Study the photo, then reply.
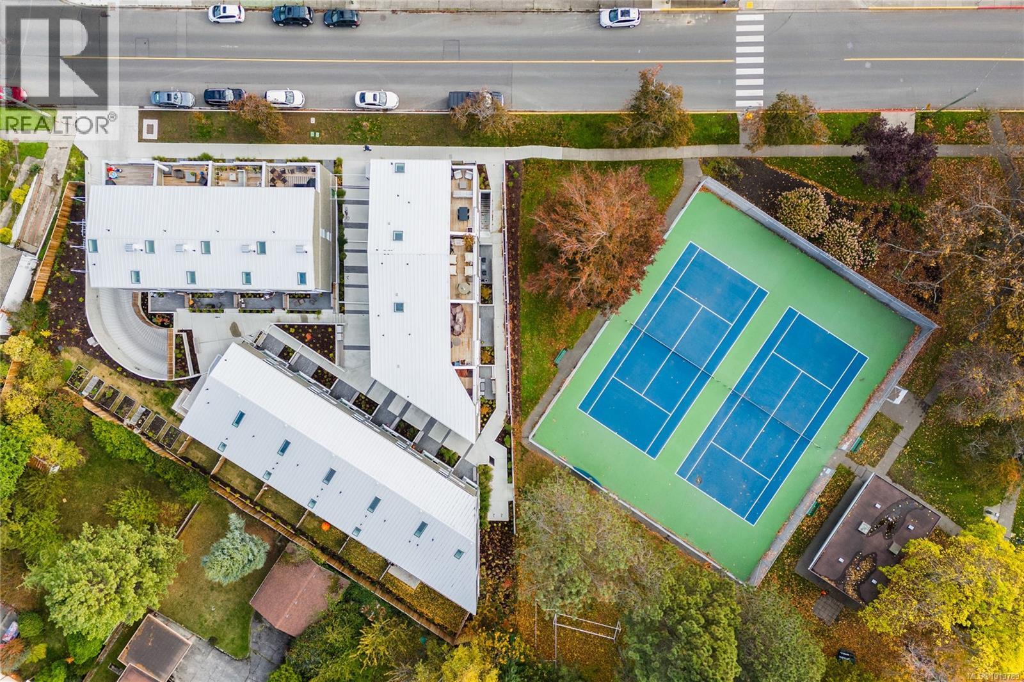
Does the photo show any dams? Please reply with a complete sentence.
No, the photo shows no dam.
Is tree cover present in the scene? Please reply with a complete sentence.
Yes, there is tree cover in the image.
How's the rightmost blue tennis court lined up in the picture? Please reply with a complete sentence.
From this overhead view, the rightmost blue tennis court appears to run at an angle.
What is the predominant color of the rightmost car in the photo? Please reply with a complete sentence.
In this view, the rightmost car is white.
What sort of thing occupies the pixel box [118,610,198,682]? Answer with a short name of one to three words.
building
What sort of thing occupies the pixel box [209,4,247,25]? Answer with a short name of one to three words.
car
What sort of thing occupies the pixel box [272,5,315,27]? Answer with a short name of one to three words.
car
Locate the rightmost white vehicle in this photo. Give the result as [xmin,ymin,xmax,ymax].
[599,7,641,29]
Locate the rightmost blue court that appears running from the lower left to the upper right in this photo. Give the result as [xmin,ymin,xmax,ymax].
[678,306,866,526]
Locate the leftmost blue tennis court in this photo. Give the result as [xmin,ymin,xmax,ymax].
[580,241,766,459]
